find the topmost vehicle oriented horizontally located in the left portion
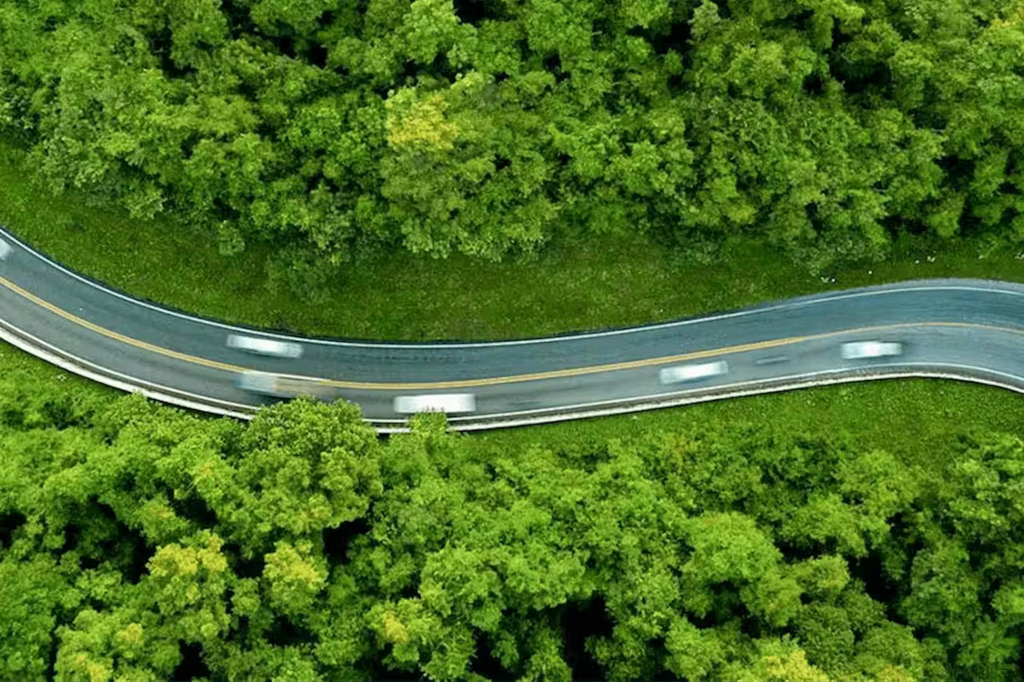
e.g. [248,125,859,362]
[235,334,296,359]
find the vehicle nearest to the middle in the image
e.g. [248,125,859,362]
[397,394,473,417]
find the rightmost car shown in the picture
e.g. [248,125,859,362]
[842,340,899,361]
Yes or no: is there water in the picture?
No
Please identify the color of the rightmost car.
white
